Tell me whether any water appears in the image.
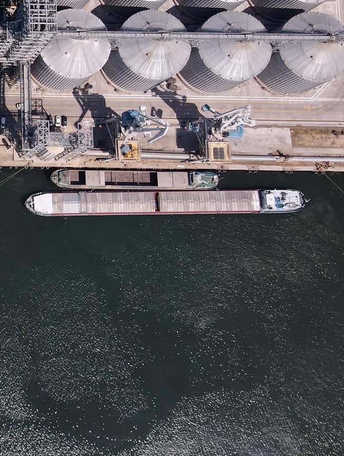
Yes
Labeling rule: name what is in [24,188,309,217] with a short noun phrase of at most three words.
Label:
ship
